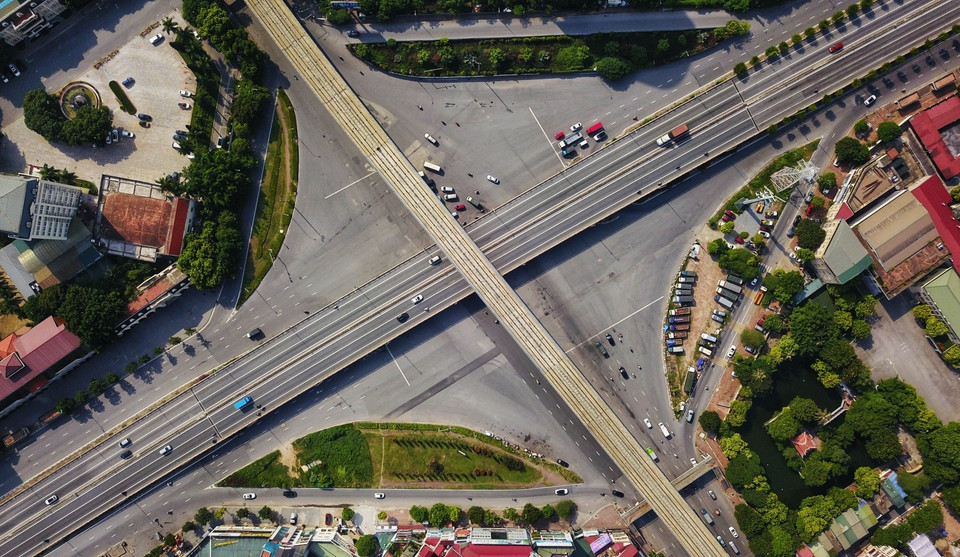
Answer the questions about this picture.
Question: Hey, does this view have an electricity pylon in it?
Yes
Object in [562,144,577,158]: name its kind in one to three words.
vehicle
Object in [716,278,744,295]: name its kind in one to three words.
vehicle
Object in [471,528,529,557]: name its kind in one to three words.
house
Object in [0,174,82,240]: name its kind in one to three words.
building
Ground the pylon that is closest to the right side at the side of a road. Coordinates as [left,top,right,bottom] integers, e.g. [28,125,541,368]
[772,161,819,191]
